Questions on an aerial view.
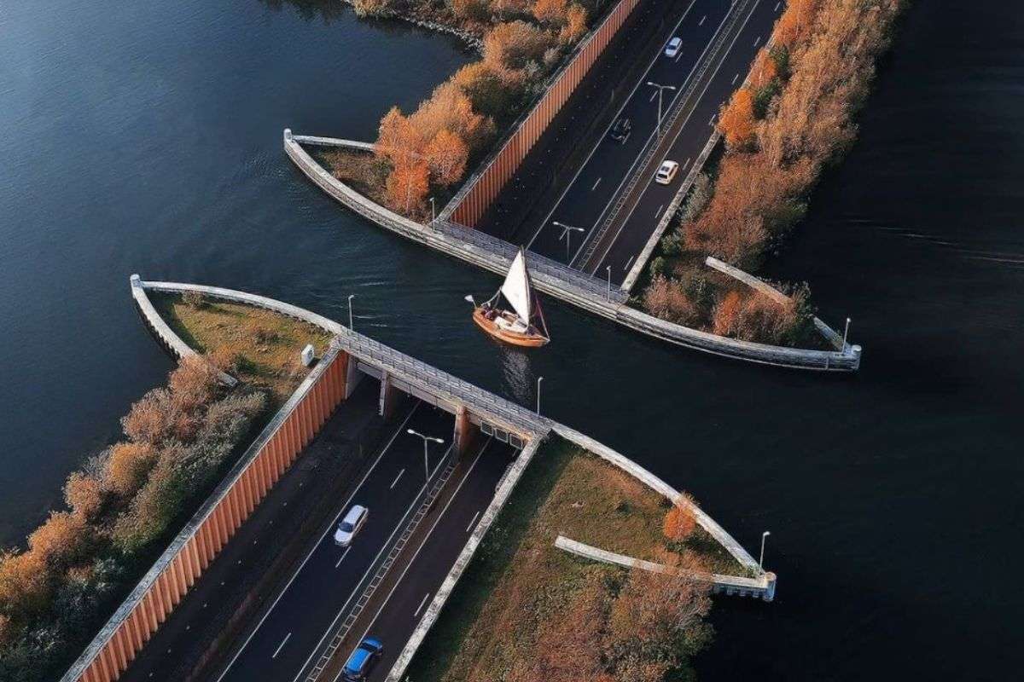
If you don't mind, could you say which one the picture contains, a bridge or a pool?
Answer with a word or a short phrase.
bridge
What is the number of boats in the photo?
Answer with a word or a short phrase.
1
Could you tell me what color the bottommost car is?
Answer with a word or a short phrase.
blue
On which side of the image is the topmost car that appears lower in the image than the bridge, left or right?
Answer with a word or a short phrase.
left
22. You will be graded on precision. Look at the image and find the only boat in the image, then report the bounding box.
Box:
[465,249,551,347]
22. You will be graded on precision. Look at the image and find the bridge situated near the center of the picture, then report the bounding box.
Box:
[337,221,628,449]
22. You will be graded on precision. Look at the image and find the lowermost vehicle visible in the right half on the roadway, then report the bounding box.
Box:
[656,162,678,186]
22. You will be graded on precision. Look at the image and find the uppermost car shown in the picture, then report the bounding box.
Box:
[665,39,683,57]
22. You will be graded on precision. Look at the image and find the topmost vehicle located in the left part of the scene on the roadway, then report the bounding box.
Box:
[334,507,367,548]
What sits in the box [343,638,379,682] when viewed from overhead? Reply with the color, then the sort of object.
blue car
